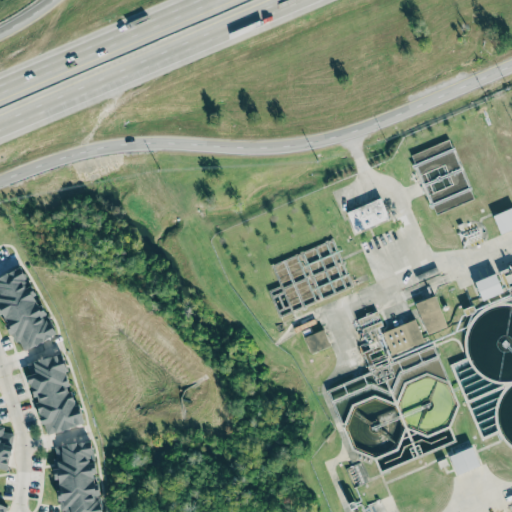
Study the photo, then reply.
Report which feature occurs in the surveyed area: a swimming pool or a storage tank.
storage tank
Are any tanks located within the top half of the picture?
Yes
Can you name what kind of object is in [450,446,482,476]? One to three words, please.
shed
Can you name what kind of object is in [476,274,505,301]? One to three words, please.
building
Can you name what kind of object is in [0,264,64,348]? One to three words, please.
building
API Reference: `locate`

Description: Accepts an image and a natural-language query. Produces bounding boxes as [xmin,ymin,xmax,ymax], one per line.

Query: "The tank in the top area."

[412,140,475,214]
